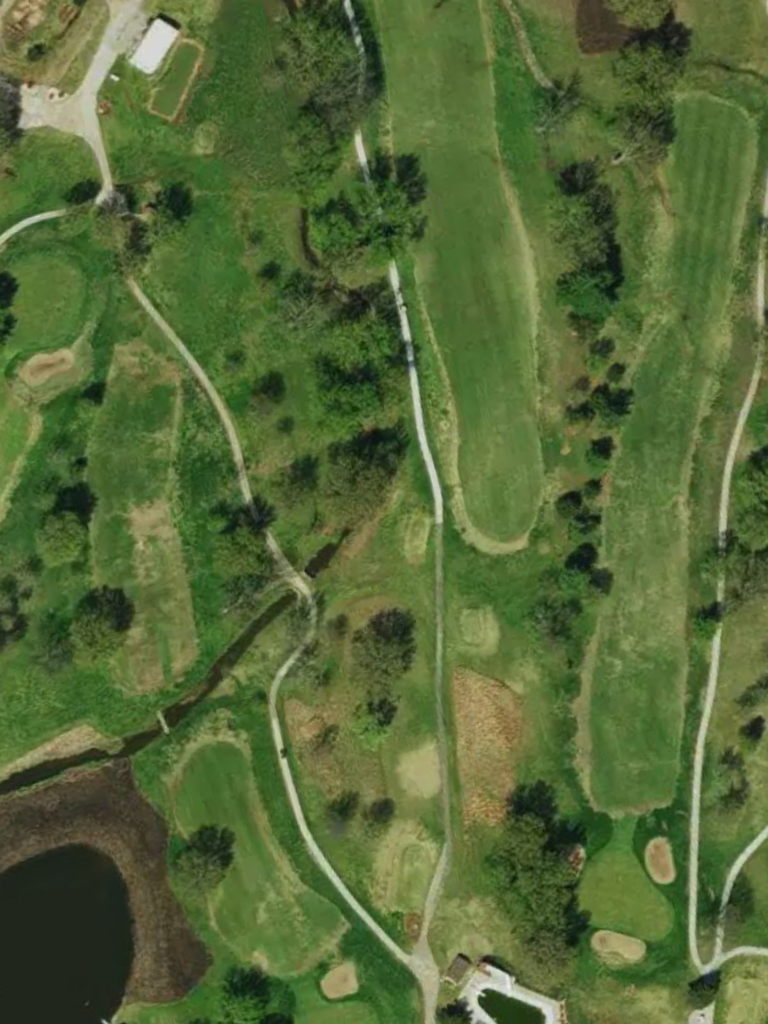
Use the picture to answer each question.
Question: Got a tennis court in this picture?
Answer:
No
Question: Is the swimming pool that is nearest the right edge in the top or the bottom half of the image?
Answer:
bottom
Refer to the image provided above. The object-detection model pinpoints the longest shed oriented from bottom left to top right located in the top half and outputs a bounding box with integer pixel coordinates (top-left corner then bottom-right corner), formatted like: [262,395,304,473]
[131,16,179,74]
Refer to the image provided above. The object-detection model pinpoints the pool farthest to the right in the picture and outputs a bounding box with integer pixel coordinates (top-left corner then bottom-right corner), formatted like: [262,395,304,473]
[461,965,564,1024]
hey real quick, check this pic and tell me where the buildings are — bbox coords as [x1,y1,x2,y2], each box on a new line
[131,16,179,74]
[481,965,514,990]
[447,955,472,983]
